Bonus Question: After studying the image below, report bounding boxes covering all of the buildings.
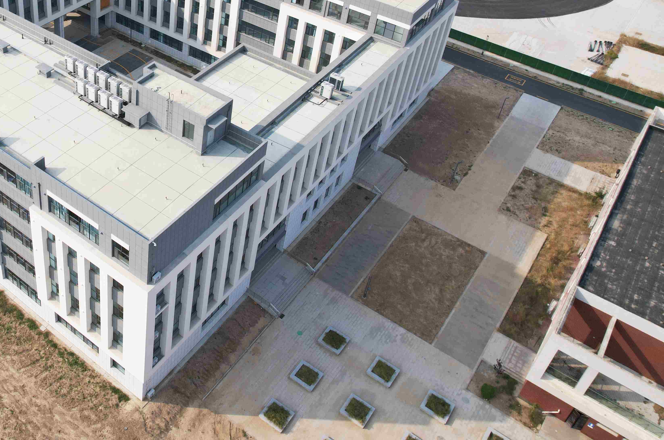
[0,0,460,401]
[522,102,664,440]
